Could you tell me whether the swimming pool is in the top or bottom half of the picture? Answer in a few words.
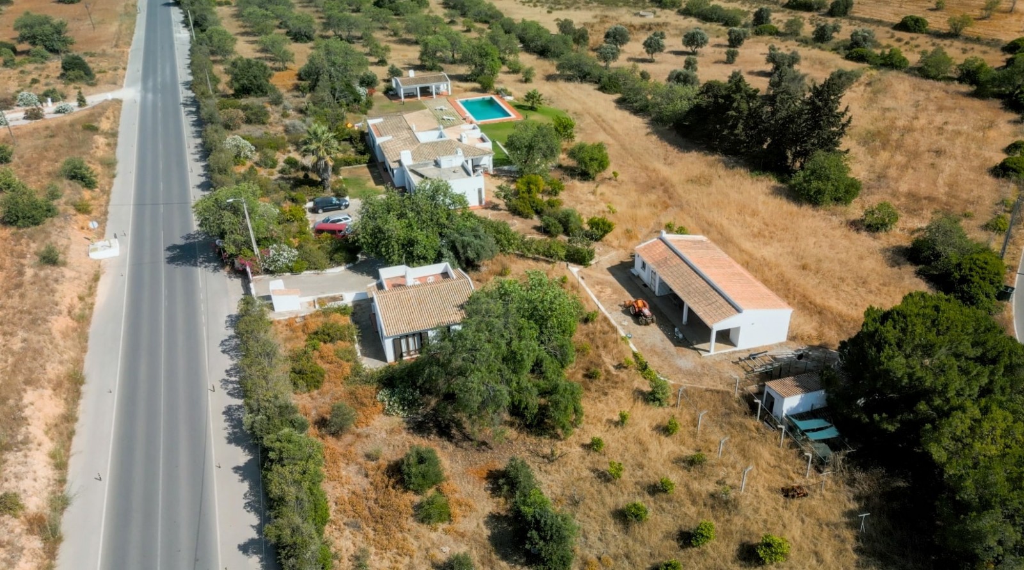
top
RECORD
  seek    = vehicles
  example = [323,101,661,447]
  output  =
[312,222,352,241]
[313,210,353,226]
[627,294,654,325]
[310,195,351,215]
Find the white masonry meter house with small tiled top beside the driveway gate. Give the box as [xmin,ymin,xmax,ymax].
[272,280,299,310]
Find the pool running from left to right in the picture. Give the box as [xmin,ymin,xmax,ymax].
[448,94,522,124]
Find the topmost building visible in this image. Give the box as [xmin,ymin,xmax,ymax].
[384,69,454,102]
